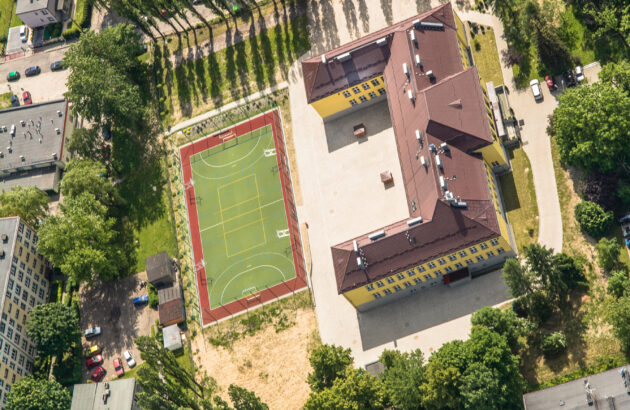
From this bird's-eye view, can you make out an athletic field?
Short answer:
Yes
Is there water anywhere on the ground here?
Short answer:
No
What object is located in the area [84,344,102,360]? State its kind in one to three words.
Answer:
vehicle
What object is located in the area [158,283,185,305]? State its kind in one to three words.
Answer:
shed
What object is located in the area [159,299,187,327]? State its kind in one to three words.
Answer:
shed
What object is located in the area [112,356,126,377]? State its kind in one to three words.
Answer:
vehicle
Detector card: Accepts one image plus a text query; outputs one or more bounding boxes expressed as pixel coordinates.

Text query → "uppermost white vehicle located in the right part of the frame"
[573,64,586,83]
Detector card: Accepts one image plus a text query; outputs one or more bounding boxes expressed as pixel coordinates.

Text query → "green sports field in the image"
[179,107,310,328]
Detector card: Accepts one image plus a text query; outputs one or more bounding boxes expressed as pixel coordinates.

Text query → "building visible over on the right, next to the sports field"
[301,2,519,314]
